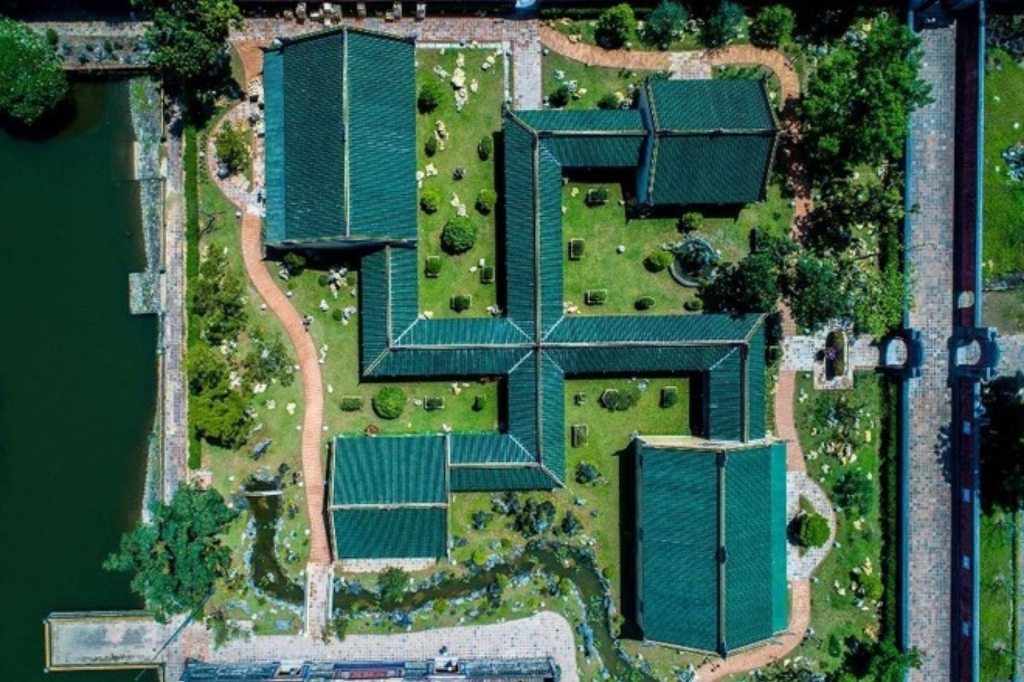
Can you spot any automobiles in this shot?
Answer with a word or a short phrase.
No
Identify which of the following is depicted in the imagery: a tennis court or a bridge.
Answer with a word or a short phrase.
bridge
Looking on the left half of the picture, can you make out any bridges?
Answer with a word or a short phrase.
Yes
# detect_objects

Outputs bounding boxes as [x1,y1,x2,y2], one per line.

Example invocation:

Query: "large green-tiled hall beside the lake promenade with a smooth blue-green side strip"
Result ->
[264,29,422,253]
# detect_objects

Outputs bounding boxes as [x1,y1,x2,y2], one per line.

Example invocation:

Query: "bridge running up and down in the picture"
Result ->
[301,563,333,642]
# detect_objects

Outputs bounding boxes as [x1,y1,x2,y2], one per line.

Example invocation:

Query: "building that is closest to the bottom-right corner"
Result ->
[636,437,787,670]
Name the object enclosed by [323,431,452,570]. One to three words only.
building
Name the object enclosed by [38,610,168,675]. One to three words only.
pier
